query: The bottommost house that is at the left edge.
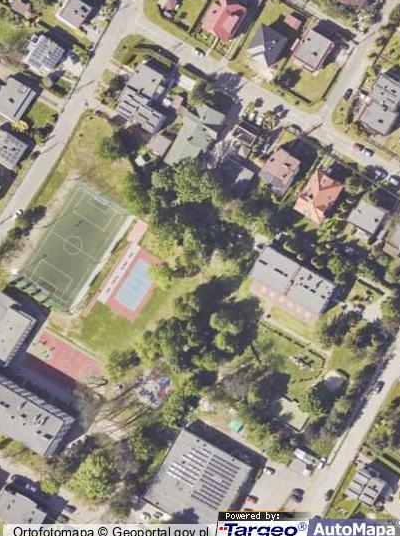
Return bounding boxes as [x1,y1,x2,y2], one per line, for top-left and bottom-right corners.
[0,486,47,528]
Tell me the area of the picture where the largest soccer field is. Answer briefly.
left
